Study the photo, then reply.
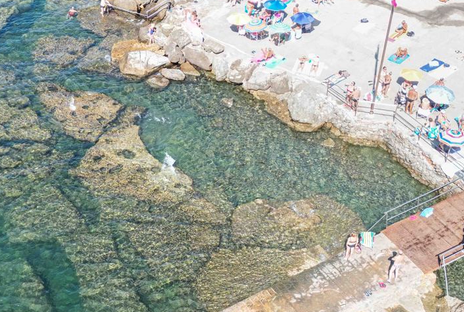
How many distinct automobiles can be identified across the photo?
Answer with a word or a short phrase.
0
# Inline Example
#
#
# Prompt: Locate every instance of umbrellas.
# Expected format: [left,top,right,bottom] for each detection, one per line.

[245,20,267,44]
[291,12,314,40]
[264,0,288,23]
[437,128,464,161]
[269,22,291,49]
[228,12,251,31]
[400,69,423,98]
[426,85,455,118]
